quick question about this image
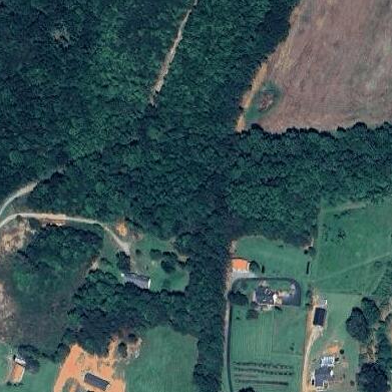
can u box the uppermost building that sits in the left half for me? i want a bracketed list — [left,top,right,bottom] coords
[123,273,155,291]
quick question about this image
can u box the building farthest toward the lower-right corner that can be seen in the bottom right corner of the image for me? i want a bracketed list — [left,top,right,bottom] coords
[312,363,335,391]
